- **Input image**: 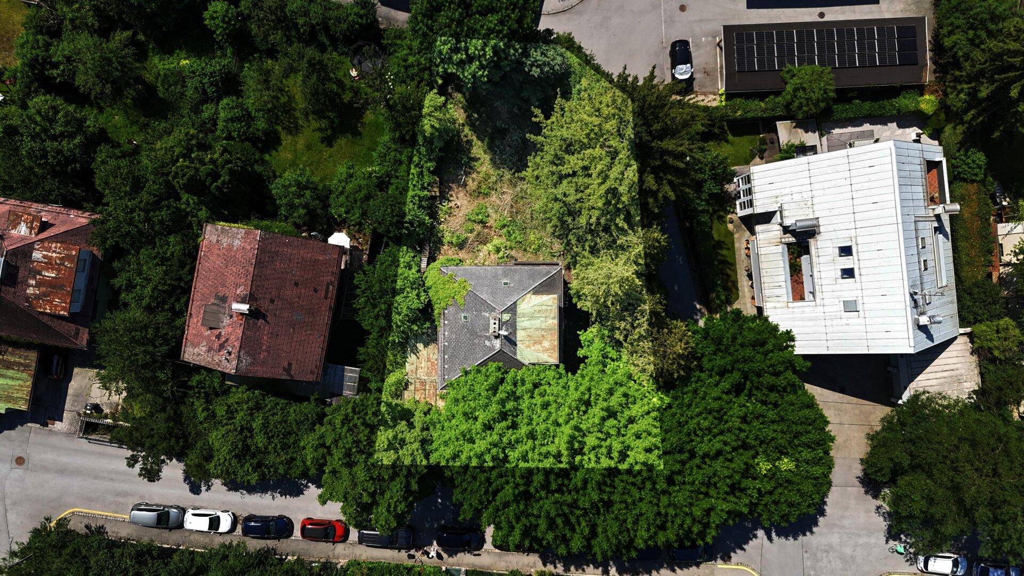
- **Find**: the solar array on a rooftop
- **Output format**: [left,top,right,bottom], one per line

[735,25,918,71]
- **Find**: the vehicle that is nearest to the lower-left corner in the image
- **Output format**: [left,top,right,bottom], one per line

[129,501,187,532]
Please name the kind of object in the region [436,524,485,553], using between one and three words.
car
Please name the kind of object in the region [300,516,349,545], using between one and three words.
car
